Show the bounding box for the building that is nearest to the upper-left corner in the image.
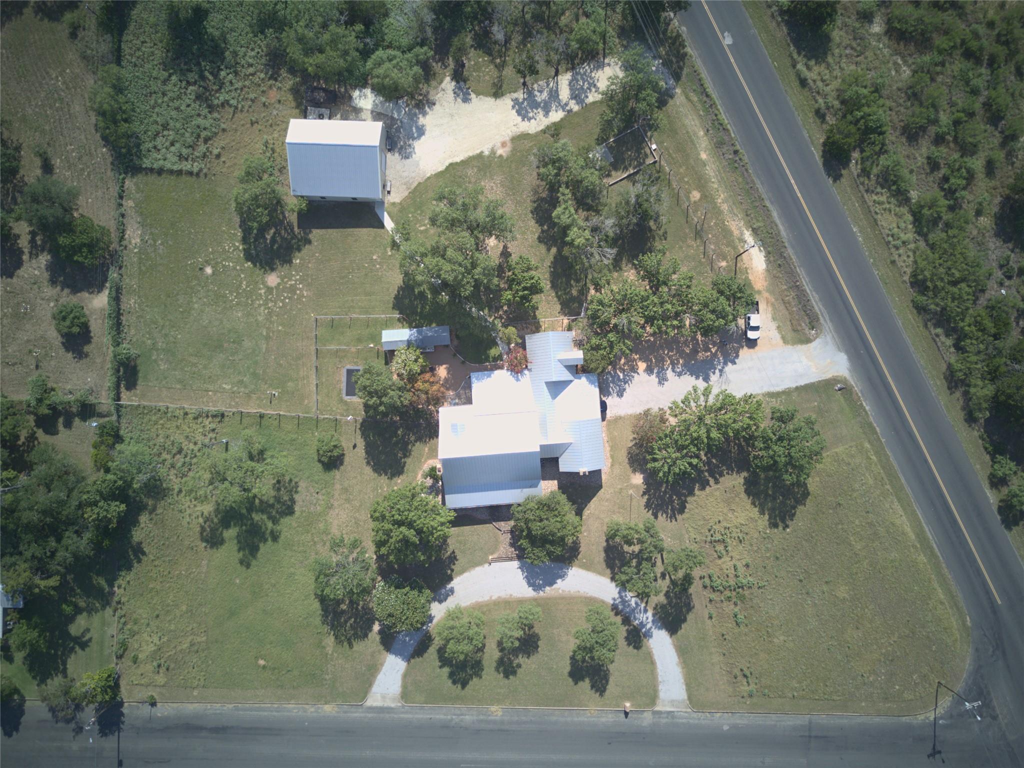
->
[286,119,386,203]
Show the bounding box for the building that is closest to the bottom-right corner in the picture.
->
[439,332,605,509]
